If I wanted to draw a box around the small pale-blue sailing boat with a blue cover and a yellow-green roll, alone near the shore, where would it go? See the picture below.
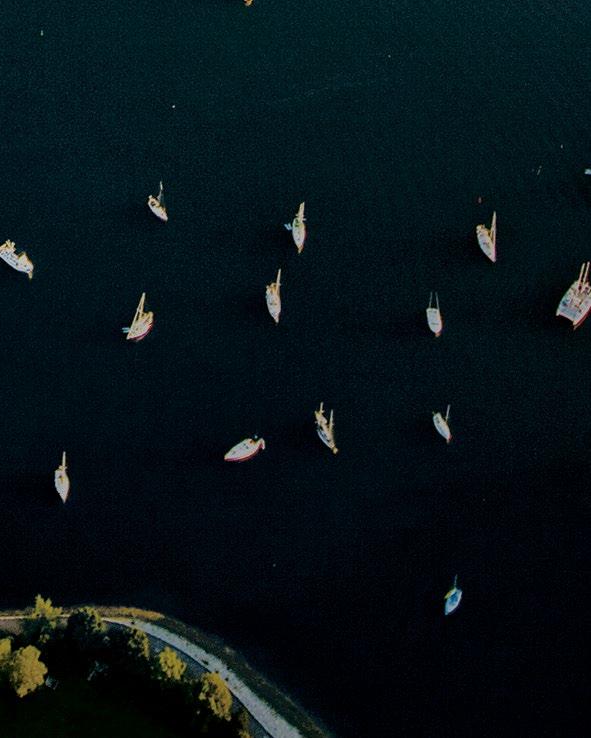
[445,577,463,616]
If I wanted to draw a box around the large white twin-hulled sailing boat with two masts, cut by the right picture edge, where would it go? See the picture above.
[558,262,591,325]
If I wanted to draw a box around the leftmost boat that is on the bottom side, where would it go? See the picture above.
[54,451,69,504]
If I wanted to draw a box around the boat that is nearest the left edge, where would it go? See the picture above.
[0,239,34,279]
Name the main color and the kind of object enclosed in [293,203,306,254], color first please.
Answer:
white boat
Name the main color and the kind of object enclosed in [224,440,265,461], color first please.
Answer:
white boat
